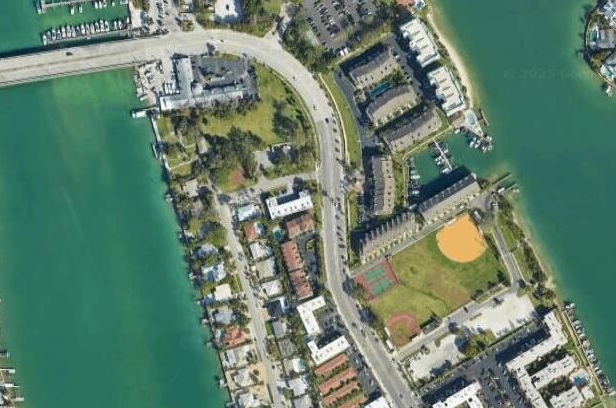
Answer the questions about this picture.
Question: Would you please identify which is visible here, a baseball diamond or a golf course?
baseball diamond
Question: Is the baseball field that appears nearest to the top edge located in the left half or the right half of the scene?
right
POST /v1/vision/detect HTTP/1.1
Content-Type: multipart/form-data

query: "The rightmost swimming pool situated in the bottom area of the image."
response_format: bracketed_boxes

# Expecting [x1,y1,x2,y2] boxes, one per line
[566,367,589,388]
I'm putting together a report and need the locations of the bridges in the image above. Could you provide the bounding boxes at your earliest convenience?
[0,40,123,86]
